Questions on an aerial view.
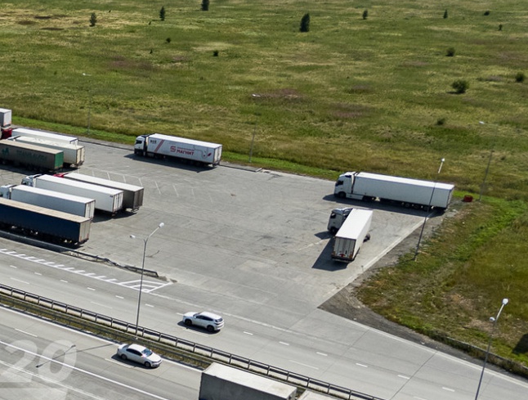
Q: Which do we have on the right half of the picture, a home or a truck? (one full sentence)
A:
It is a truck that can be seen on the right half of the picture.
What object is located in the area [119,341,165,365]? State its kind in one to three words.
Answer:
car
